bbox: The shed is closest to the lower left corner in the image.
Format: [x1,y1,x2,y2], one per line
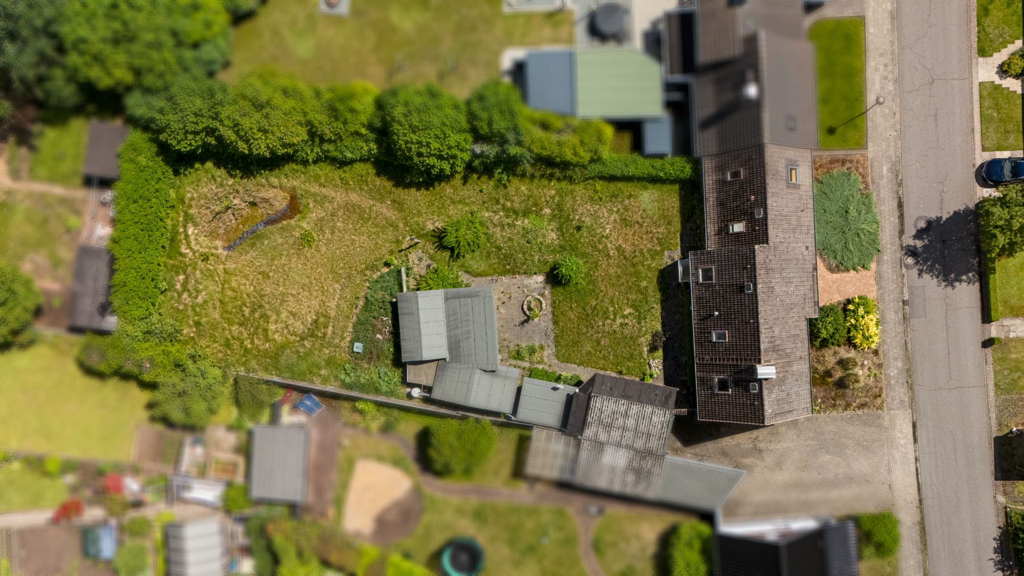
[83,521,126,560]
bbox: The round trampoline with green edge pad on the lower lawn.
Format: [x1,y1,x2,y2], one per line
[436,532,486,576]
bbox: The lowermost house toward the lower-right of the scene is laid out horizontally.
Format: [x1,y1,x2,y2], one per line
[714,510,857,576]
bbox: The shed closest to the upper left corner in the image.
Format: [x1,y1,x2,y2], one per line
[85,122,146,179]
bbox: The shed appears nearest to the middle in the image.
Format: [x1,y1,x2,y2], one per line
[446,286,502,368]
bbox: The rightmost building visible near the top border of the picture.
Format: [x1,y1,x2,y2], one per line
[664,0,824,159]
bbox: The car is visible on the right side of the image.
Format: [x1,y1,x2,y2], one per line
[982,158,1024,184]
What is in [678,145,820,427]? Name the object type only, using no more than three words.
house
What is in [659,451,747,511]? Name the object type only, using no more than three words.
building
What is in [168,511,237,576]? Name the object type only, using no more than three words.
shed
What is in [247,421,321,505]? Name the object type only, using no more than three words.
shed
